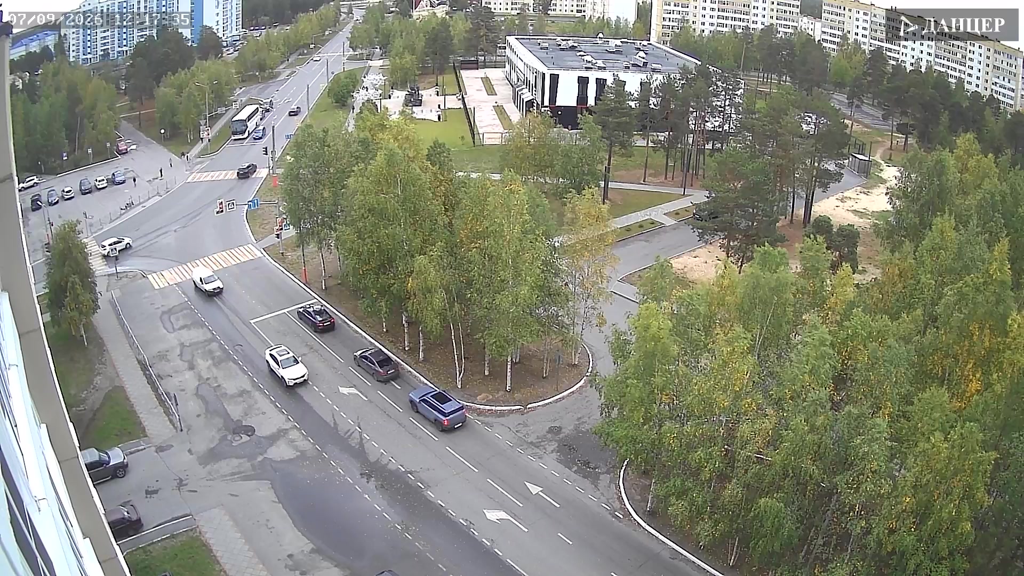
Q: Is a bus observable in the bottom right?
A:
No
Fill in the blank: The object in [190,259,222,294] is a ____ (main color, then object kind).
white van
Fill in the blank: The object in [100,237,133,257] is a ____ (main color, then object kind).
white car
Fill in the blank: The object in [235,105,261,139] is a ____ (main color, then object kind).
white bus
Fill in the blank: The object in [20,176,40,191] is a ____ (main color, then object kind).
white car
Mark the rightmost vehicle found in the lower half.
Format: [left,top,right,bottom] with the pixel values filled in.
[409,388,470,434]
